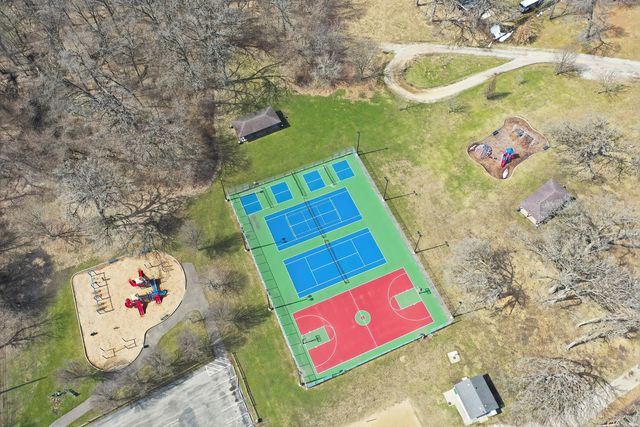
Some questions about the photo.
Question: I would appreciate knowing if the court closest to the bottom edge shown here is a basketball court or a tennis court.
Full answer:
It turns out the court closest to the bottom edge is a basketball court.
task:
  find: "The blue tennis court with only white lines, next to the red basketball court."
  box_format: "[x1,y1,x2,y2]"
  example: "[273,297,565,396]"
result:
[282,228,387,298]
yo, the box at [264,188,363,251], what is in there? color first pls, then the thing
blue tennis court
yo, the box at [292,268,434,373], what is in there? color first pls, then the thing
red basketball court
